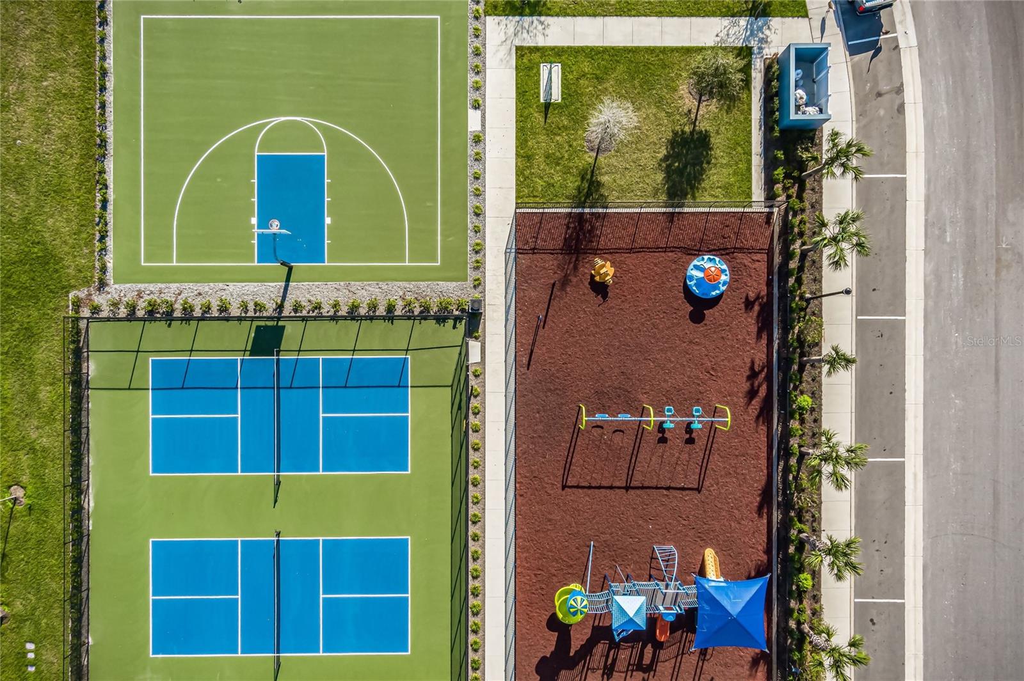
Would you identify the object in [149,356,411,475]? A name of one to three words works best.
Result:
sports court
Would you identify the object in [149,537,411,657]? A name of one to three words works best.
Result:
sports court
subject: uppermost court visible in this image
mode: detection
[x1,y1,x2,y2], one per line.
[112,0,469,284]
